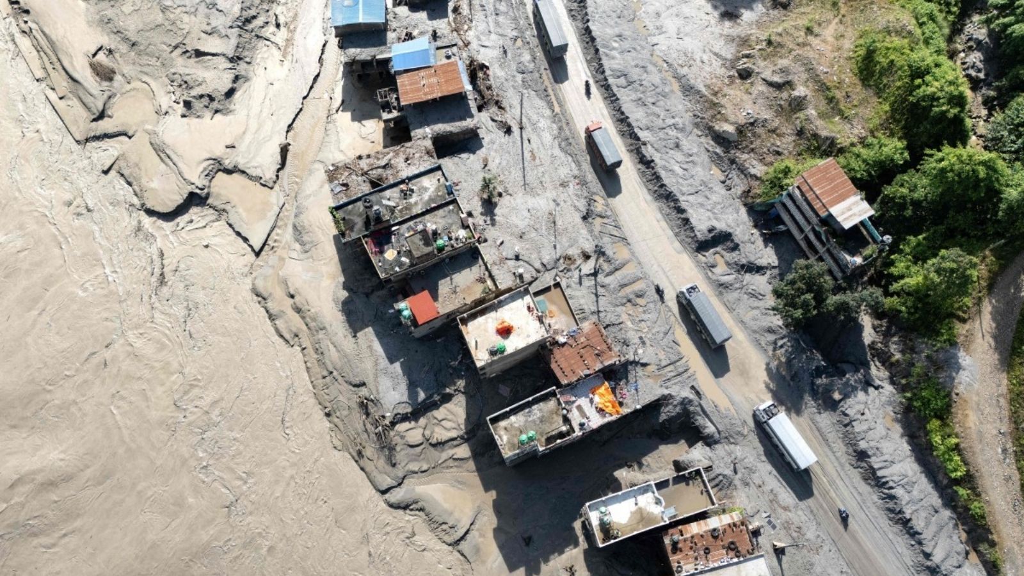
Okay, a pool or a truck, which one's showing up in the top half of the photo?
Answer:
truck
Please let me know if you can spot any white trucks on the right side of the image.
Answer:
Yes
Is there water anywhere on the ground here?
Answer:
Yes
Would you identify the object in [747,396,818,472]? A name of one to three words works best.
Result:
truck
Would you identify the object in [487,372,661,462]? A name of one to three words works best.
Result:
house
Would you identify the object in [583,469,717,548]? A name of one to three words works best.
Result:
house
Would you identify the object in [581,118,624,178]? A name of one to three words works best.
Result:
truck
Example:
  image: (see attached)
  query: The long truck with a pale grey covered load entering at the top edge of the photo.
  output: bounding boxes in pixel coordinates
[528,0,569,63]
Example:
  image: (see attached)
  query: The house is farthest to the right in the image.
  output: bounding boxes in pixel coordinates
[771,158,882,284]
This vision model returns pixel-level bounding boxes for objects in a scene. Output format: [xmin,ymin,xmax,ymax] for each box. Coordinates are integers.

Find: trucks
[747,396,818,472]
[675,282,734,352]
[528,0,569,63]
[581,118,624,178]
